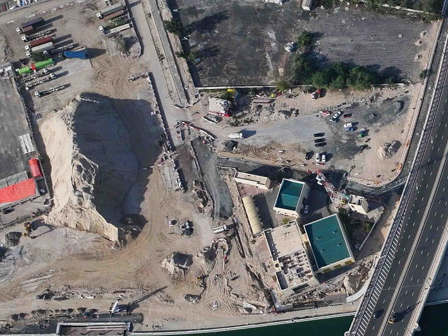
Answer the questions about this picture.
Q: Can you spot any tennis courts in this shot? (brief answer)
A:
No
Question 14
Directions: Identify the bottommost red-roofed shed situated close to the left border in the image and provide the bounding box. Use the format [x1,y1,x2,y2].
[0,179,43,209]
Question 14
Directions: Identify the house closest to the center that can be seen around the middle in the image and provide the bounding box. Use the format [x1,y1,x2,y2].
[235,172,270,188]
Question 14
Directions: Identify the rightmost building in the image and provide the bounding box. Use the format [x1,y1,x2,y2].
[348,194,383,222]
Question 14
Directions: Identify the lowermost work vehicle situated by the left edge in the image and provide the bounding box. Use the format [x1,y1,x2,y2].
[19,219,33,234]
